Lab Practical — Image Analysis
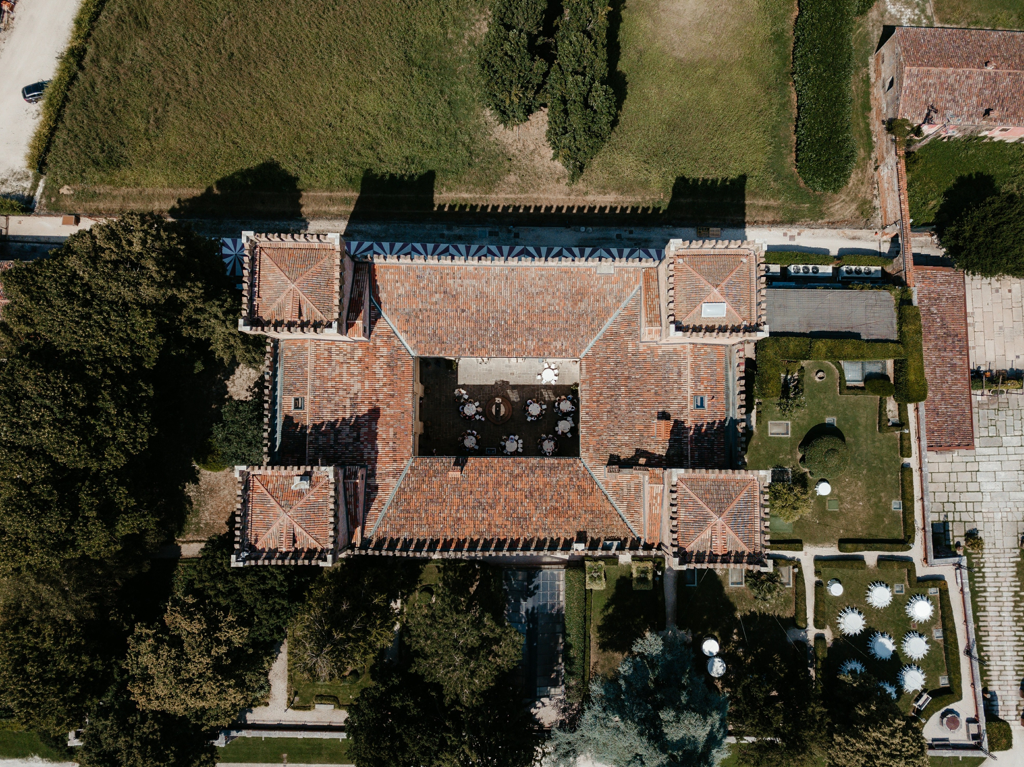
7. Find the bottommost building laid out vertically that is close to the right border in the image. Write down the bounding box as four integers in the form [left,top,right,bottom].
[915,267,976,450]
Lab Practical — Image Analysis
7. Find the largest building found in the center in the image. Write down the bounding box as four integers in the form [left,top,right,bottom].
[230,231,773,572]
